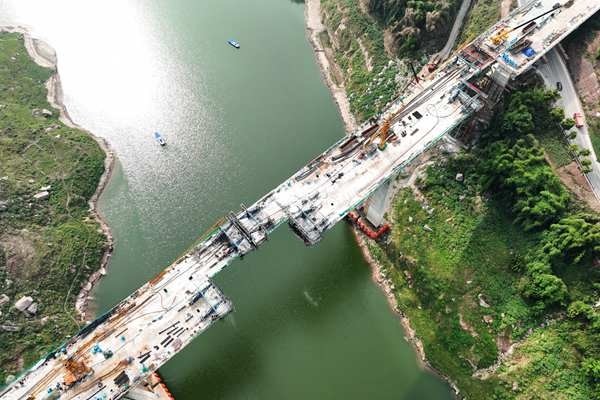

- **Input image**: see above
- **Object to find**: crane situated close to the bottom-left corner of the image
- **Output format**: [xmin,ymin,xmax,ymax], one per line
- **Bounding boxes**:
[59,350,96,388]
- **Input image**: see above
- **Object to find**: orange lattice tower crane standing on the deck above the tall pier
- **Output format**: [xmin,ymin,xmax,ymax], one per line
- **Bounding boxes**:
[364,108,411,155]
